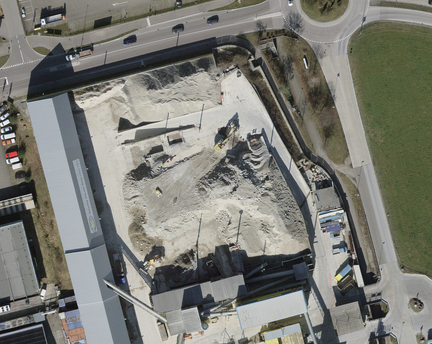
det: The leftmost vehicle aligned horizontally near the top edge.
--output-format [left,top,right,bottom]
[40,14,66,26]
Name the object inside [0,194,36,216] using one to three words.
building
